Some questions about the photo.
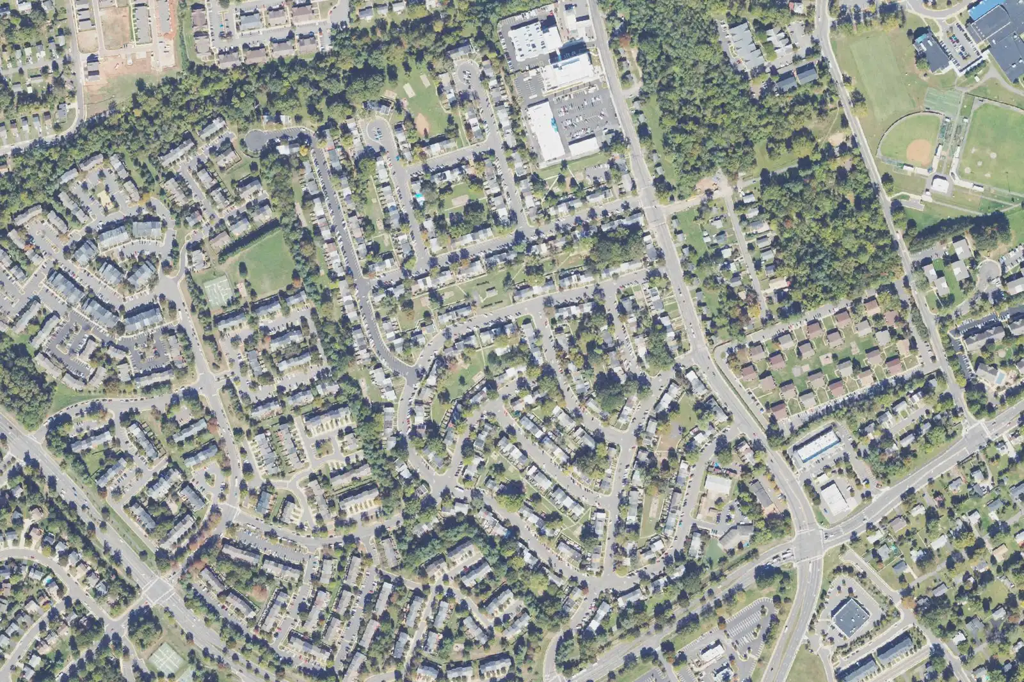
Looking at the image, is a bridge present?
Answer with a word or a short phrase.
No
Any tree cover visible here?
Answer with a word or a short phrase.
Yes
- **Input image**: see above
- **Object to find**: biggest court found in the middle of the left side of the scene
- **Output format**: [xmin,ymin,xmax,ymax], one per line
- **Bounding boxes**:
[204,276,233,309]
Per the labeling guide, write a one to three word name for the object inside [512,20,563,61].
building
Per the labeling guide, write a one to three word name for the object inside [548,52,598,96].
building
